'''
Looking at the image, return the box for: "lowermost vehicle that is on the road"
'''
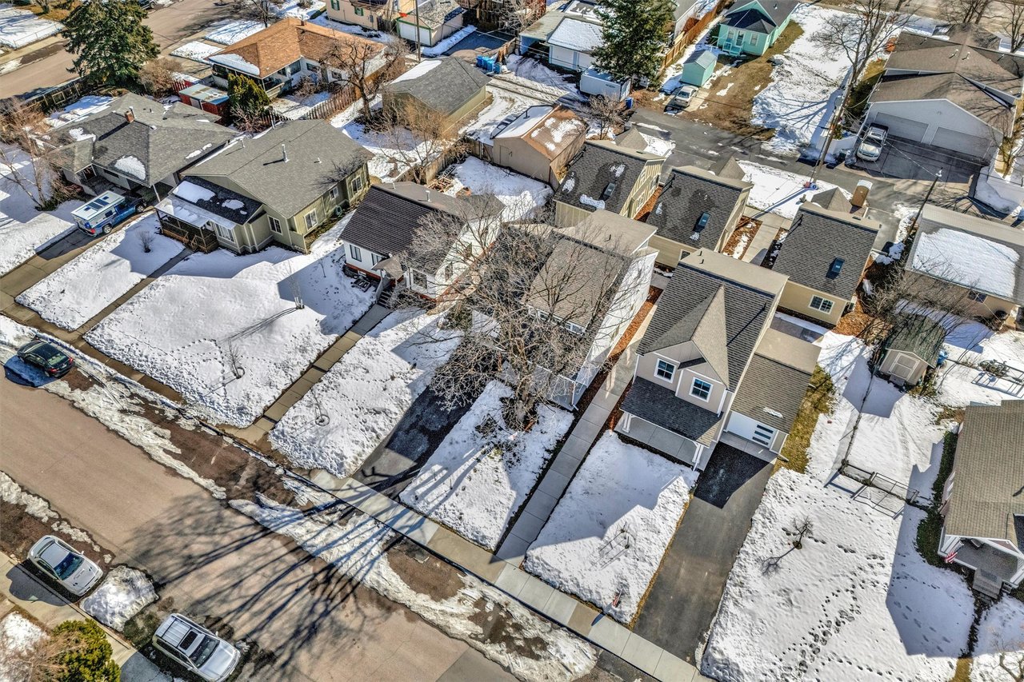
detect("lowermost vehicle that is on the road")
[152,603,243,682]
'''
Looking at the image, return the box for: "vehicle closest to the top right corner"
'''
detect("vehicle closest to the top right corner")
[858,125,888,159]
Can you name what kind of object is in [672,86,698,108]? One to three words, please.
car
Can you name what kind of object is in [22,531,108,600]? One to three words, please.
car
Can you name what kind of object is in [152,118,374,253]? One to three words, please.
house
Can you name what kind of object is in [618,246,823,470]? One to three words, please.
house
